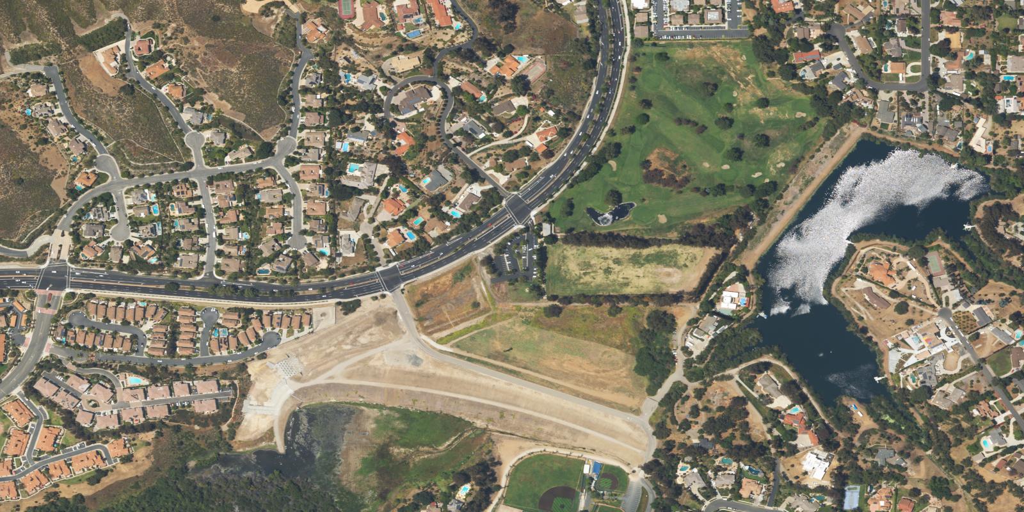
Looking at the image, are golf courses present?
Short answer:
Yes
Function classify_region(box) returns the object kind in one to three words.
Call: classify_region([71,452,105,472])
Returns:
house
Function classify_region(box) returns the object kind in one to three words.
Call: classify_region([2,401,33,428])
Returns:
house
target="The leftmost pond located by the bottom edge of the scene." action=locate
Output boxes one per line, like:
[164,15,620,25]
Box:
[222,405,359,491]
